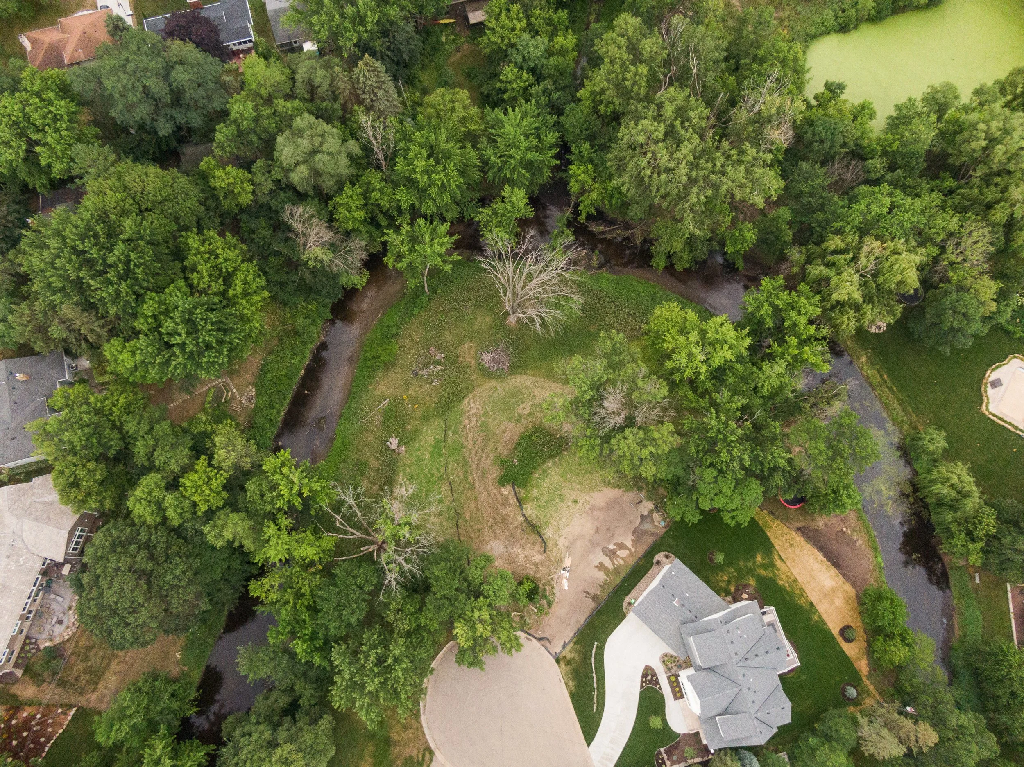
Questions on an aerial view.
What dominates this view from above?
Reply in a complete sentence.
Most of the picture is covered by trees.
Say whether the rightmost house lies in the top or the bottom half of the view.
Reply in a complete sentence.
The bottom half of the photo is where the rightmost house is.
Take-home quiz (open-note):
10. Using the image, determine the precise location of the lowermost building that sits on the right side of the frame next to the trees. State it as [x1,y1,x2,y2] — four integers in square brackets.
[632,558,801,760]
